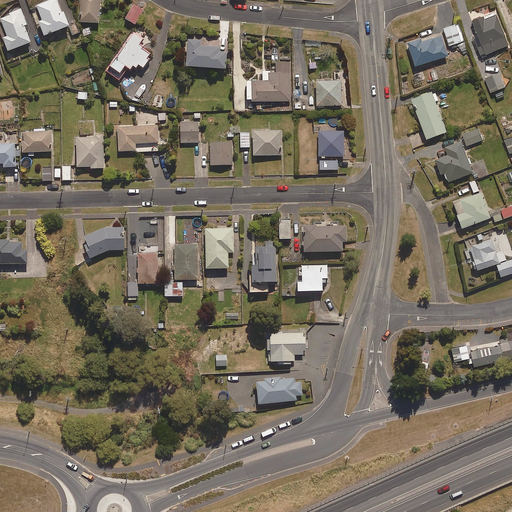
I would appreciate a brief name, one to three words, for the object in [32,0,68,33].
house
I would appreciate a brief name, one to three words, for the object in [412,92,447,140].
house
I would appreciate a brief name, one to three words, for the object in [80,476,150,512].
roundabout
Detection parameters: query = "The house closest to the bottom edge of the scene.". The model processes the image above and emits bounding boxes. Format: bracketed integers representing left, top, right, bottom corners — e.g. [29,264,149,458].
[256,376,304,406]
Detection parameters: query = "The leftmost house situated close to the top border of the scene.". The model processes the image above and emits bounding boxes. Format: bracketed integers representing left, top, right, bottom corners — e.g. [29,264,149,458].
[0,9,30,48]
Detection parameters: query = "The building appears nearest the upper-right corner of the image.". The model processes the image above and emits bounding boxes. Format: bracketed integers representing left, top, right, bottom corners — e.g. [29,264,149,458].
[470,12,508,56]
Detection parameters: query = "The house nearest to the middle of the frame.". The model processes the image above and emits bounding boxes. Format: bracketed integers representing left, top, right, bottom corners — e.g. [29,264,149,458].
[252,239,278,282]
